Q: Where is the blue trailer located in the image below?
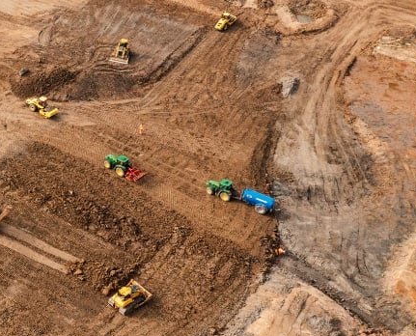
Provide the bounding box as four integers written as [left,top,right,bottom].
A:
[234,186,281,212]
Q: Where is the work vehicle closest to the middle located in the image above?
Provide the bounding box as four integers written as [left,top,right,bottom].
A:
[202,179,236,203]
